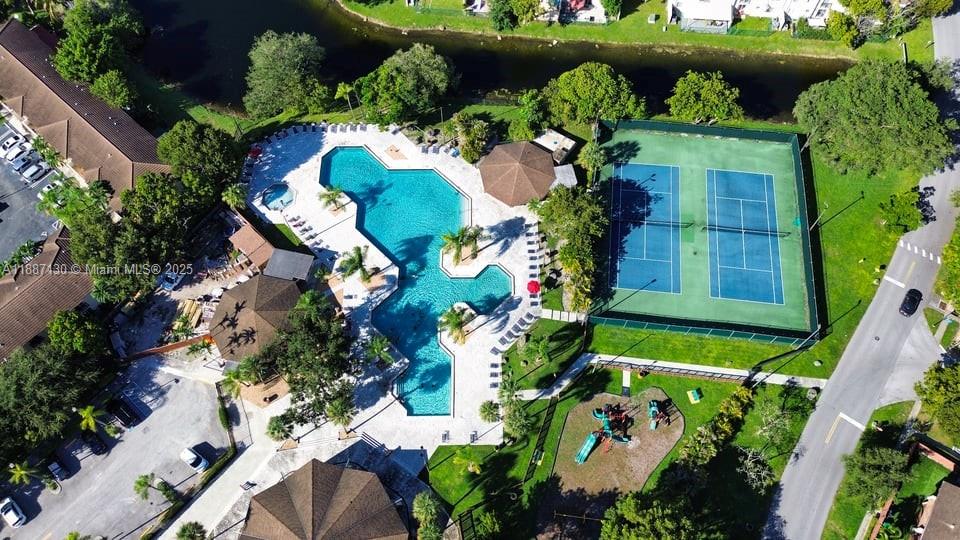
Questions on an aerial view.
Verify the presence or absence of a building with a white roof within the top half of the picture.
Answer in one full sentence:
Yes, within the top half of the picture there is a building with a white roof.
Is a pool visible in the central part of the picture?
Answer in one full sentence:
Yes, I can see a pool in the central part of the picture.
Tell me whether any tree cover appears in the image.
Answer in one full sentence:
Yes, tree cover shows up in the scene.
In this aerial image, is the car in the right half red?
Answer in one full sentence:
No, the color of the car in the right half is black.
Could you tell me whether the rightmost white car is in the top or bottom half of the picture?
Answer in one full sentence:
It is in the bottom half that the rightmost white car appears.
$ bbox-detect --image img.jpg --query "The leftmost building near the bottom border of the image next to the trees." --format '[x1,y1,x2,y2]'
[234,458,414,540]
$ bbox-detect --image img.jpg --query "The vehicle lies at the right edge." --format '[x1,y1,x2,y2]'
[901,287,925,317]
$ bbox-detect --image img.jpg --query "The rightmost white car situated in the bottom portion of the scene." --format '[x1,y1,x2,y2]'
[176,445,209,473]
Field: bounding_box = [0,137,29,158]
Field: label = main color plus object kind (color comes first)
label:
white car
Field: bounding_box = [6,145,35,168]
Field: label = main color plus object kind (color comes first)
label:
white car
